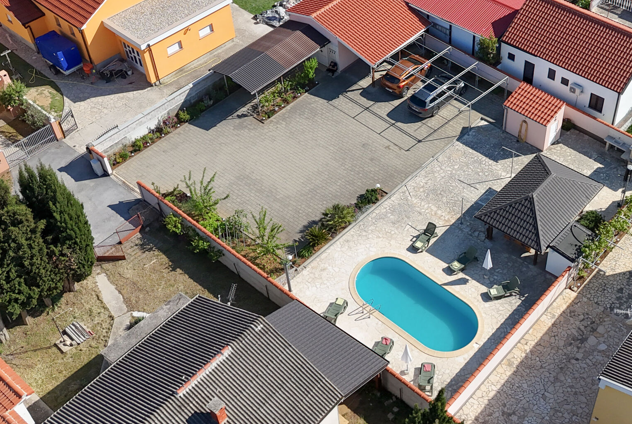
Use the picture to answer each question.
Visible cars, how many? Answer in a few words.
2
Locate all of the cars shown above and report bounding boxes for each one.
[379,54,439,97]
[404,71,470,119]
